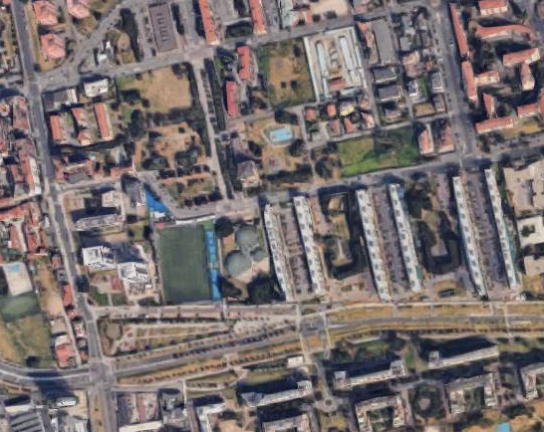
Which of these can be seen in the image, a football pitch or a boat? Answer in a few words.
football pitch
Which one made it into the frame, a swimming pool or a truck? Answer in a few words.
swimming pool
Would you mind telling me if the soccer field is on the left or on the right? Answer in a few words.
left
